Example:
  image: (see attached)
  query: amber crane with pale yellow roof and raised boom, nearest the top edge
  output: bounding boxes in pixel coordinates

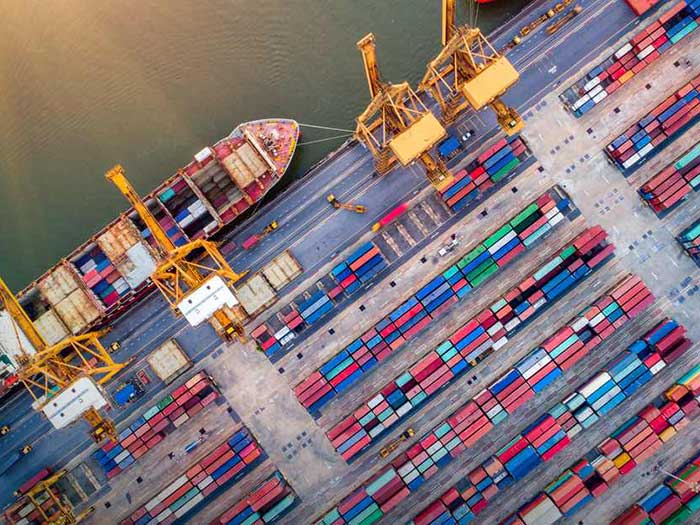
[411,0,525,132]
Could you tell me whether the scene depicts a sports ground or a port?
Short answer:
port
